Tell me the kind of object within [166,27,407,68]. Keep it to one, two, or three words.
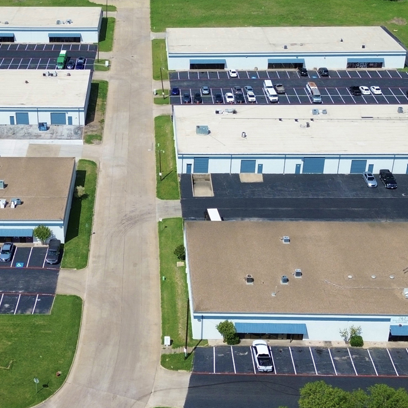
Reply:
building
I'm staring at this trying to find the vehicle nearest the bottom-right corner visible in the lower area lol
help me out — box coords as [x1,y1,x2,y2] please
[252,341,273,374]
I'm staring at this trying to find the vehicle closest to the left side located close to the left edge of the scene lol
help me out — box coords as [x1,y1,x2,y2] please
[0,244,14,263]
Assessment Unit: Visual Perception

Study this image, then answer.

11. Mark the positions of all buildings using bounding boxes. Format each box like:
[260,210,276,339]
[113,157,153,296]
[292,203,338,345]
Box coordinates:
[0,69,90,125]
[184,221,408,341]
[166,27,407,68]
[0,5,101,41]
[0,156,75,244]
[172,104,408,174]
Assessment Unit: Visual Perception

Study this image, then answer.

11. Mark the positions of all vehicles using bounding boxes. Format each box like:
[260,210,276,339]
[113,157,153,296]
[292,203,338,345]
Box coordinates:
[275,84,285,95]
[362,174,377,187]
[206,210,222,221]
[266,87,278,101]
[235,92,244,103]
[75,62,83,69]
[379,170,397,187]
[360,87,370,96]
[183,94,192,103]
[78,57,85,65]
[247,90,256,102]
[45,240,60,263]
[310,87,323,101]
[319,67,328,76]
[263,80,275,90]
[0,244,14,263]
[348,85,362,96]
[67,61,74,69]
[229,70,237,78]
[56,46,67,66]
[201,86,209,95]
[244,86,253,95]
[297,68,309,78]
[369,87,381,96]
[252,341,273,374]
[225,94,234,103]
[214,95,223,103]
[194,94,202,103]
